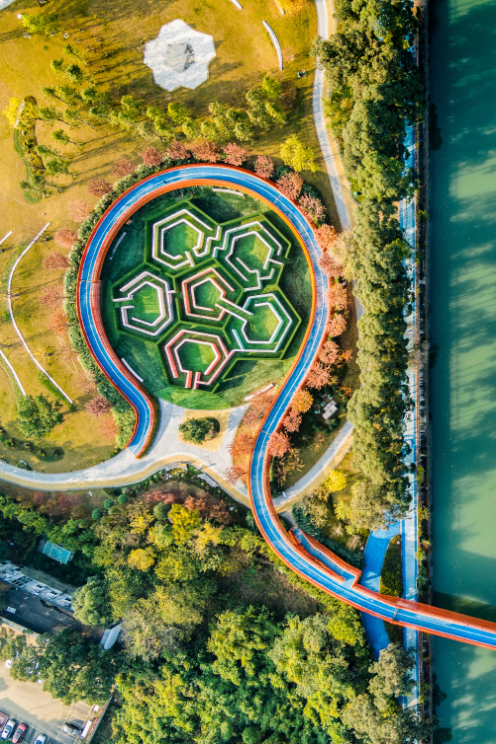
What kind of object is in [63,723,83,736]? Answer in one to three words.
vehicle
